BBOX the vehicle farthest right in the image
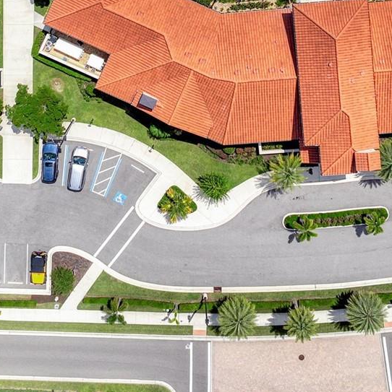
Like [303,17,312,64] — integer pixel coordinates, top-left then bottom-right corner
[67,148,88,192]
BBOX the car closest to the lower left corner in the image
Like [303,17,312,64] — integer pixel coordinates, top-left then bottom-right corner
[28,253,46,288]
